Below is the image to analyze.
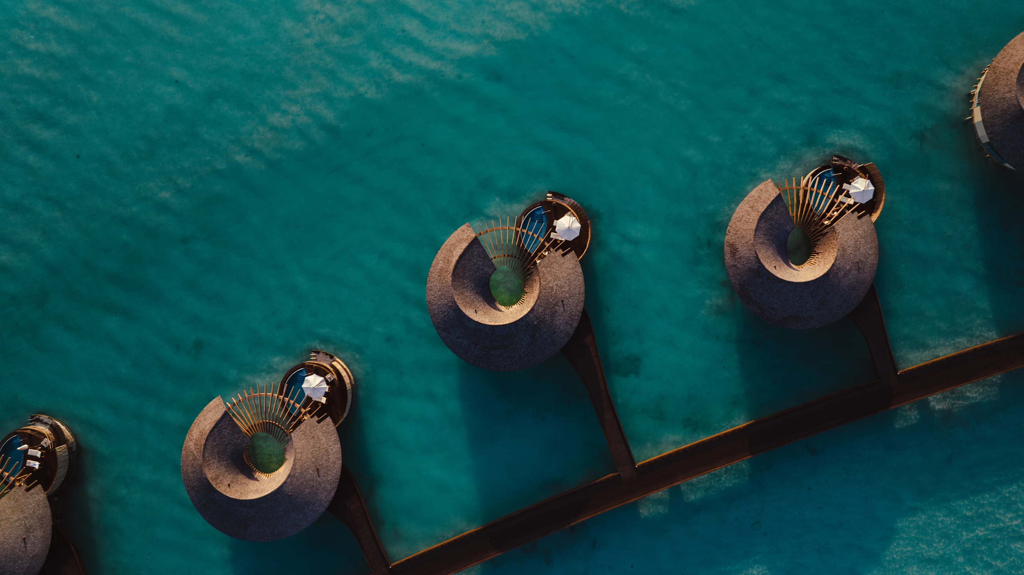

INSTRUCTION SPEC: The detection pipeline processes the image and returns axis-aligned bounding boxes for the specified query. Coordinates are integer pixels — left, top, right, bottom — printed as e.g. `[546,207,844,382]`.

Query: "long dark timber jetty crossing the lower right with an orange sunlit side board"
[364,330,1024,575]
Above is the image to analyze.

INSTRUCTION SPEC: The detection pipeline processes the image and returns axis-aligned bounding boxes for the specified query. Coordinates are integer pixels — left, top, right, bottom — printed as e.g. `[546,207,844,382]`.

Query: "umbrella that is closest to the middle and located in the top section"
[555,211,581,241]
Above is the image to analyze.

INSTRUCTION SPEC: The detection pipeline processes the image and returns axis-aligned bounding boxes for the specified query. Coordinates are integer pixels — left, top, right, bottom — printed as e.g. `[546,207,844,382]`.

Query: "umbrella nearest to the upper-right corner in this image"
[849,173,874,204]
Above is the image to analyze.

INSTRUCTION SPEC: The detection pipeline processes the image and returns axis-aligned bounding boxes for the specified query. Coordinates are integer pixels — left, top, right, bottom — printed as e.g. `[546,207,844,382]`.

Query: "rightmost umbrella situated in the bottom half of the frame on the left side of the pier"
[302,373,334,399]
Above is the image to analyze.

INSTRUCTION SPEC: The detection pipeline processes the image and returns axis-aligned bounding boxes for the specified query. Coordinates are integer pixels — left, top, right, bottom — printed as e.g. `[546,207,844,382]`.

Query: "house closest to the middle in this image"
[426,216,585,372]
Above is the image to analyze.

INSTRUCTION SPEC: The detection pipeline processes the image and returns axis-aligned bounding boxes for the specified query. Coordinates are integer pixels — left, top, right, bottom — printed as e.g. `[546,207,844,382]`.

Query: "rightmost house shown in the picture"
[966,31,1024,172]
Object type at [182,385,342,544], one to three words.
house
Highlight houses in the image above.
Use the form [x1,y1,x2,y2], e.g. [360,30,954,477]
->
[426,216,585,372]
[966,31,1024,172]
[723,179,878,329]
[182,385,342,544]
[0,457,58,575]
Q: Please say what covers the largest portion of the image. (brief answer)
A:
water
